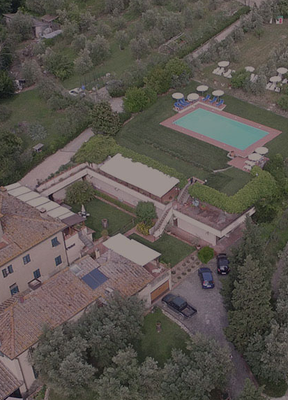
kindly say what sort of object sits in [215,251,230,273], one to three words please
car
